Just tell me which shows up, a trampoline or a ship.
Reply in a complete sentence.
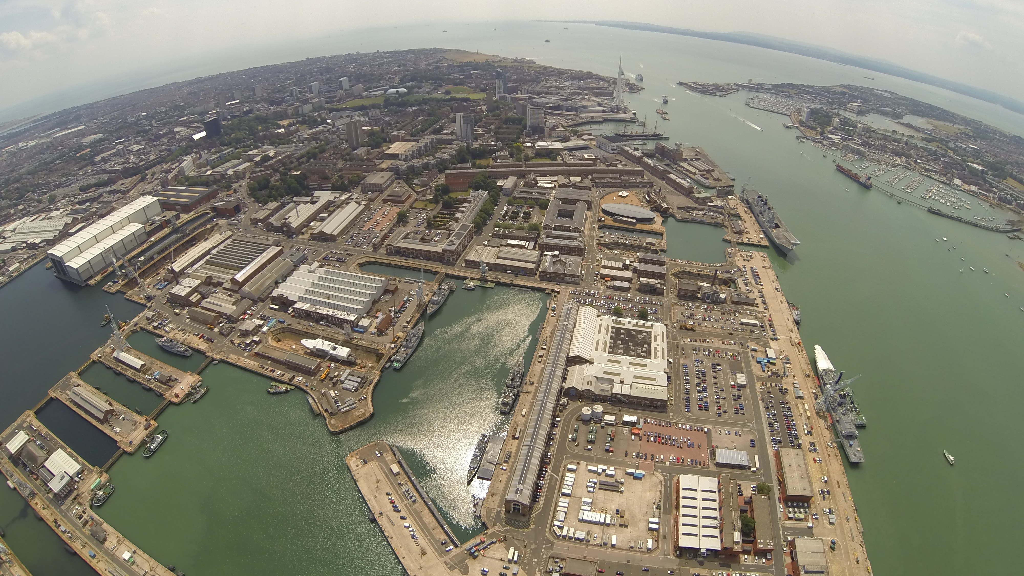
The one in the frame is a ship.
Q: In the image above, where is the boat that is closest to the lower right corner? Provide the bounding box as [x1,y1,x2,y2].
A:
[943,449,955,465]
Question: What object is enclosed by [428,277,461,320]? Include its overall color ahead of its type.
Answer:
gray ship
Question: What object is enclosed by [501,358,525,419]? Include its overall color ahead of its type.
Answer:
gray ship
